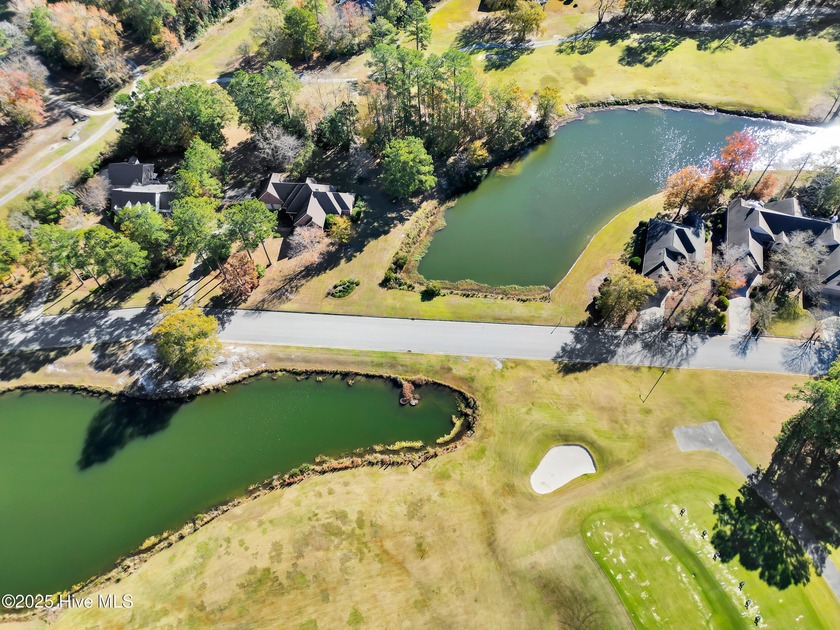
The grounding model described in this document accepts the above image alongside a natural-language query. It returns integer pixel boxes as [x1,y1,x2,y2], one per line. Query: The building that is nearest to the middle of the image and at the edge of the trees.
[258,171,358,240]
